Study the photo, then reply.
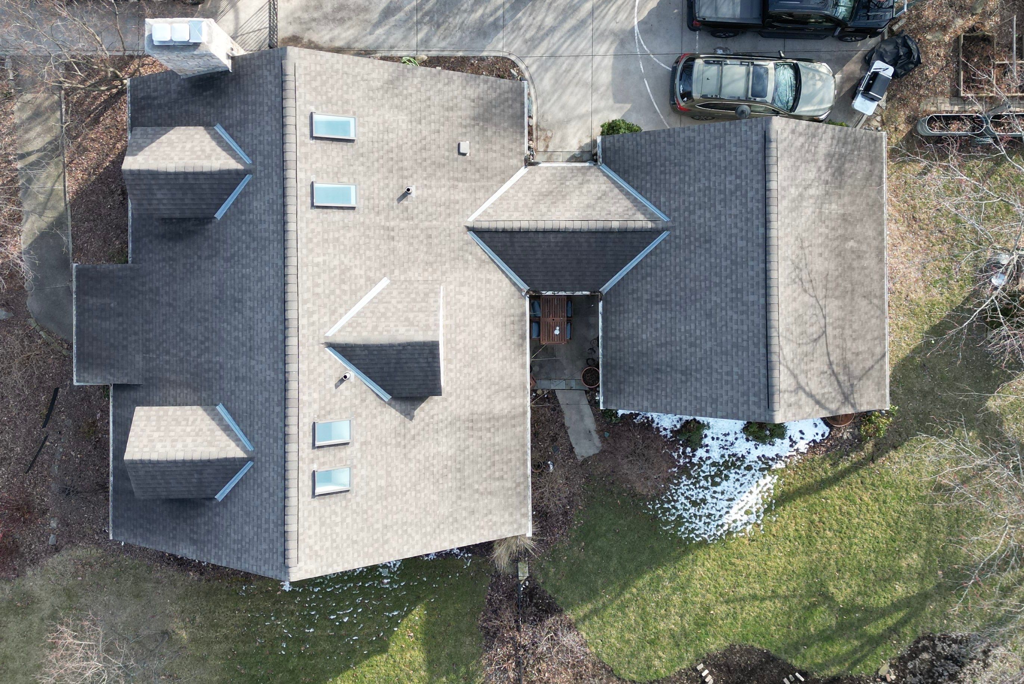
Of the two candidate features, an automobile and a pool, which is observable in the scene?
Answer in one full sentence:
There is an automobile in the scene.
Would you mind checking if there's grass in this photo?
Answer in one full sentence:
Yes, there's grass in this view.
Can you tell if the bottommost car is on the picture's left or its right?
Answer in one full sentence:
The bottommost car appears in the right half of the scene.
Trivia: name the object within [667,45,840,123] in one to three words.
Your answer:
car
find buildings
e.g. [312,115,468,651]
[71,17,894,582]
